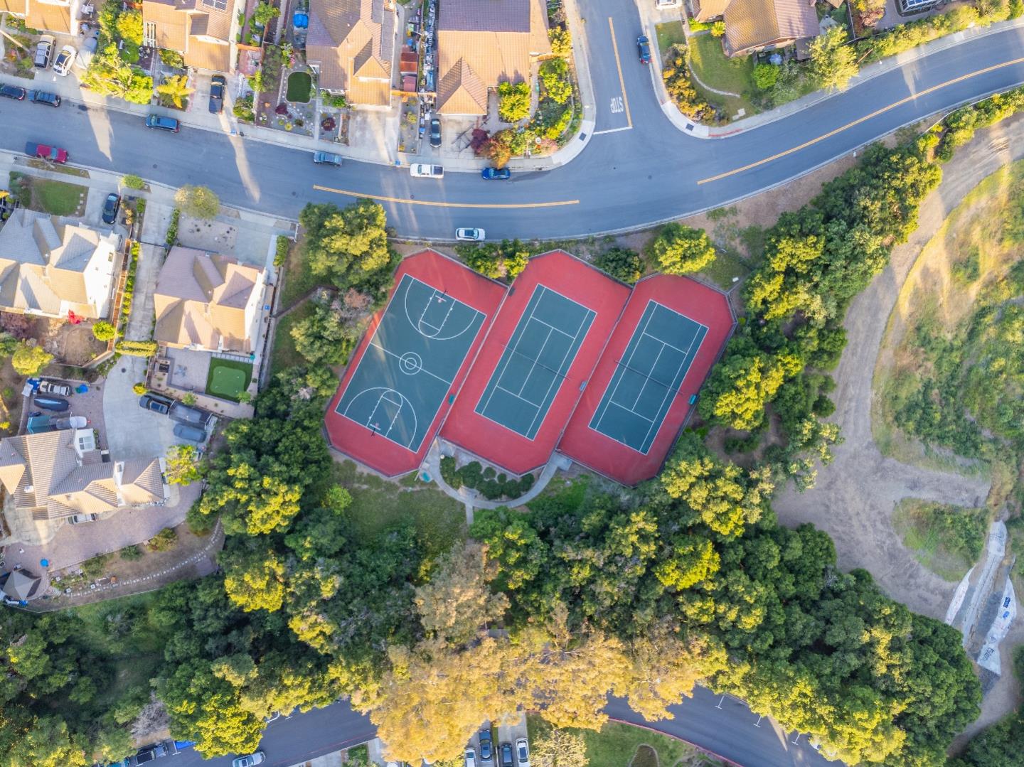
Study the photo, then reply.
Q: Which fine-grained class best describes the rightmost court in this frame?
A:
tennis court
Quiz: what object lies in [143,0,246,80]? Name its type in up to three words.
house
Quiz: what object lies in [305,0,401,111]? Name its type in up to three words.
house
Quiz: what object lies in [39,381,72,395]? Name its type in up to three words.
car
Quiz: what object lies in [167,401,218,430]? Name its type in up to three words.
trailer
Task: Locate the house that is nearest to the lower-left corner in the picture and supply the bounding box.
[0,426,175,520]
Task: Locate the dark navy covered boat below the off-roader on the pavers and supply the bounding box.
[32,396,71,413]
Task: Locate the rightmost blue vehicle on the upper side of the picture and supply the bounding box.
[636,36,651,65]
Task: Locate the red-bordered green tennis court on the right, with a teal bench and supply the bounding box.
[557,273,736,486]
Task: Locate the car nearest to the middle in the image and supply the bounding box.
[455,227,485,241]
